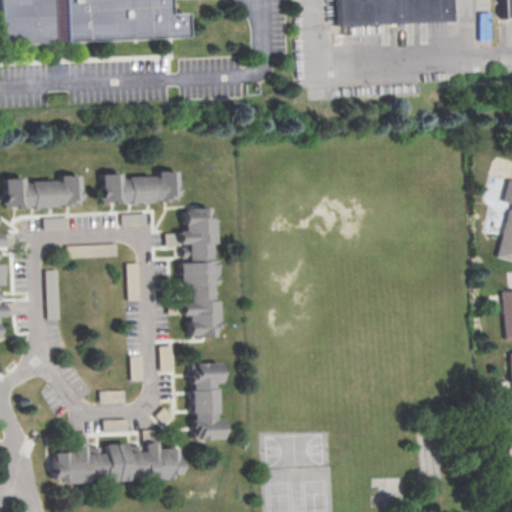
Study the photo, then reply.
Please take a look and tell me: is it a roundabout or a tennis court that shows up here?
tennis court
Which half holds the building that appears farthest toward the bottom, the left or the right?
left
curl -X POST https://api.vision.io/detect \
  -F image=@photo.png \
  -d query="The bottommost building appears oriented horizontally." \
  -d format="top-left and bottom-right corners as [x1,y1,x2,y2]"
[56,442,189,484]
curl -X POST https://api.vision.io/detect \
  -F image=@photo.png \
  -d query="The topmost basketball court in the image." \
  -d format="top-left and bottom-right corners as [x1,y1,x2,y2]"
[259,432,329,468]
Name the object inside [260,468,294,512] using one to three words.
tennis court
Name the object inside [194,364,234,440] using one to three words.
building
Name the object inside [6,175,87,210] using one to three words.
building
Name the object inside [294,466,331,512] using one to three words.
tennis court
